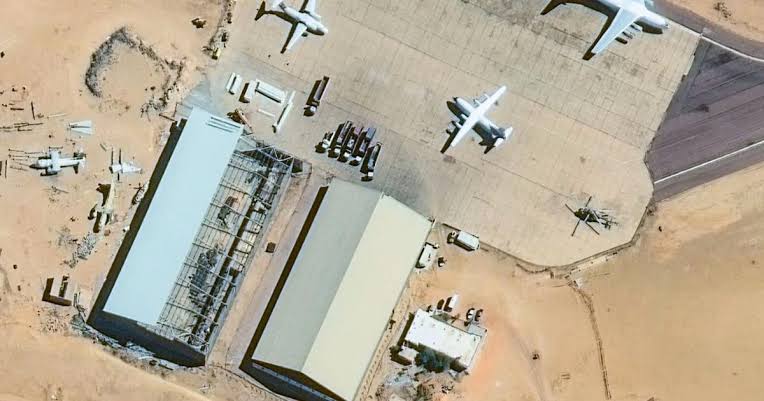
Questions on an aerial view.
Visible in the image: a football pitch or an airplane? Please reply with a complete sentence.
There is an airplane in the scene.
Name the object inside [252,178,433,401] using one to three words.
hangar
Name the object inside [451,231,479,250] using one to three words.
vehicle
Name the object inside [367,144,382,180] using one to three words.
vehicle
